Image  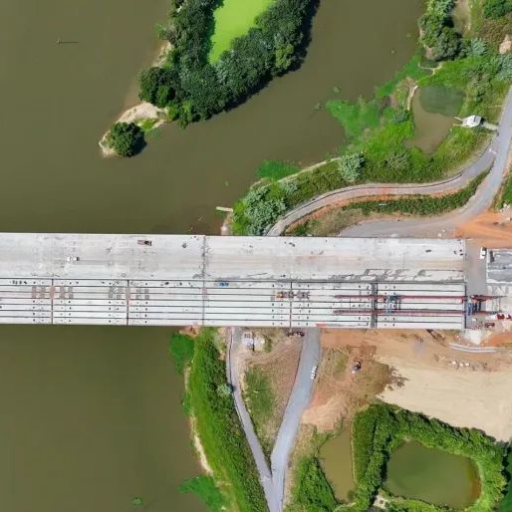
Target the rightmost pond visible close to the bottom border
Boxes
[384,439,482,508]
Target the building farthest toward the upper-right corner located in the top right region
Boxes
[457,112,483,130]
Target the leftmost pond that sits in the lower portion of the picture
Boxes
[316,426,354,499]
